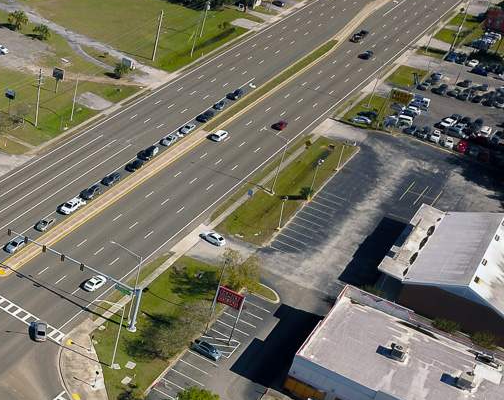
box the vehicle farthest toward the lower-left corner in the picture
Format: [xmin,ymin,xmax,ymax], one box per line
[33,320,48,344]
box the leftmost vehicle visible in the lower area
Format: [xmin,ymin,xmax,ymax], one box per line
[3,236,27,254]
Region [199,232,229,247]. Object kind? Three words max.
car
